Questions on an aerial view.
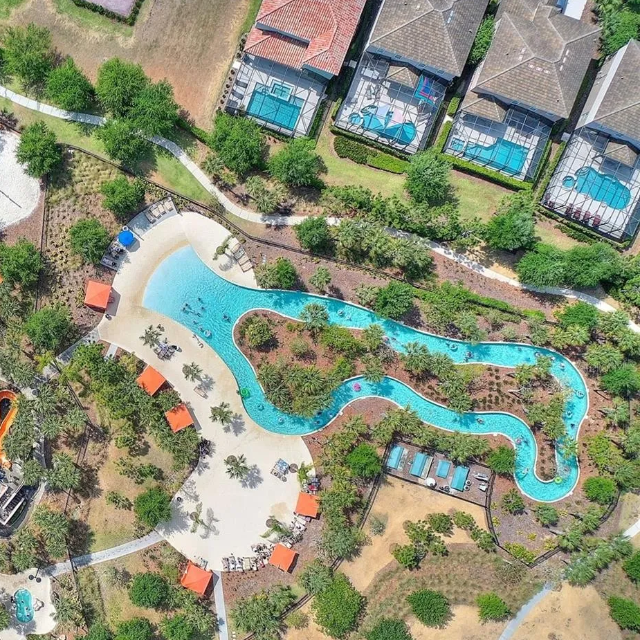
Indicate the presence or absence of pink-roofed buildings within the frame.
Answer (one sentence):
Yes, a pink-roofed building is visible in the scene.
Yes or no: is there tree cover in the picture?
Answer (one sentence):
Yes, there is tree cover in the image.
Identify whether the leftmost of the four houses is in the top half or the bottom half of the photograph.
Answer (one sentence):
The leftmost of the four houses sits in the top half of the picture.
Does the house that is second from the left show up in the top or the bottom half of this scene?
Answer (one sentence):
It is in the top half that the house that is second from the left appears.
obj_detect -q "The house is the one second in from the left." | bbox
[360,0,488,91]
